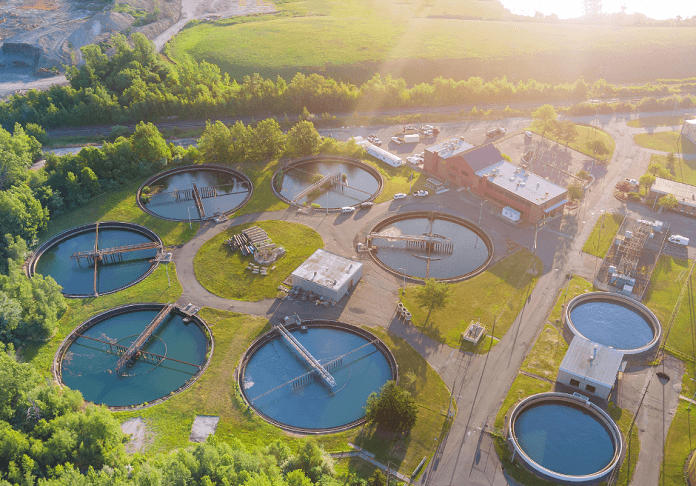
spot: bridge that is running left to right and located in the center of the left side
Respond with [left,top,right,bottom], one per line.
[70,237,164,263]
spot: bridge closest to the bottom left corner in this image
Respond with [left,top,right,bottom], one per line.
[111,299,179,375]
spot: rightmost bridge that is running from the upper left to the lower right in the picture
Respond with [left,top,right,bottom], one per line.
[276,319,334,387]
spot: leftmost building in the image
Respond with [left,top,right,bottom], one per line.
[292,249,362,307]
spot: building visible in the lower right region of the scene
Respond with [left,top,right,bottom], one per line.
[557,336,625,400]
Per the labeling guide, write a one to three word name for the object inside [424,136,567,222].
building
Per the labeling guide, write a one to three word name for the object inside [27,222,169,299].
storage tank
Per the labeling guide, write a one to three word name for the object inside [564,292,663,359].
storage tank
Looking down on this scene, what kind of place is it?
industrial area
